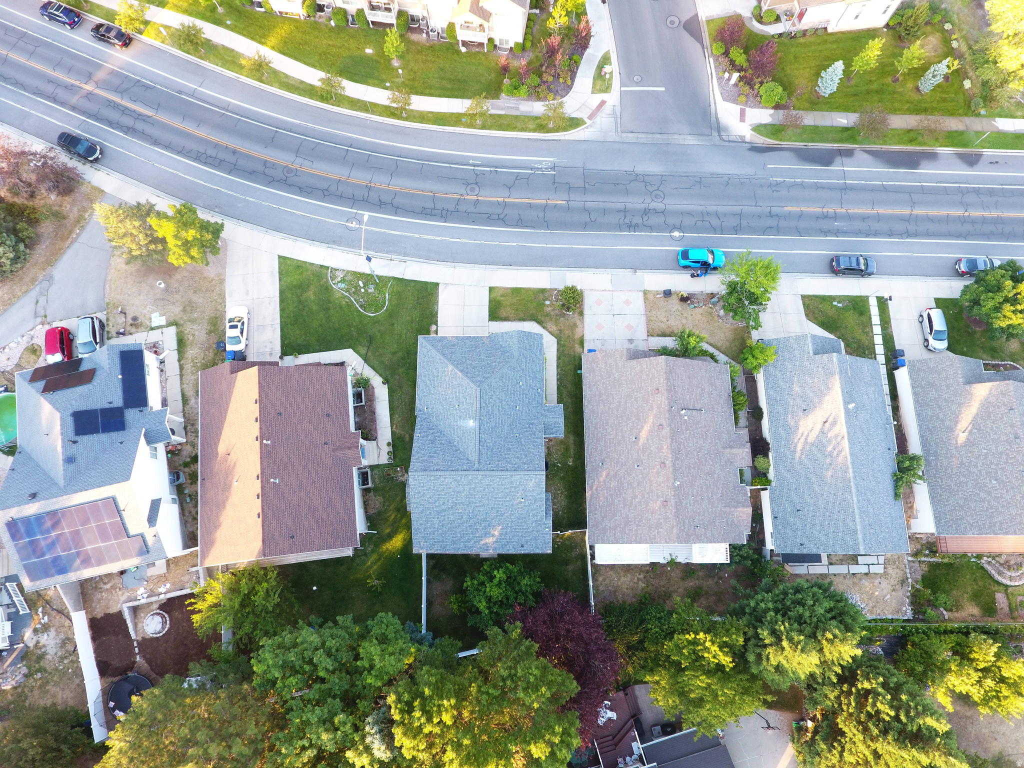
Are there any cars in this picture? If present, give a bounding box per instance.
[225,306,249,355]
[37,1,87,30]
[48,324,72,362]
[78,314,103,356]
[828,254,876,277]
[53,129,108,164]
[677,247,724,276]
[918,307,949,352]
[952,254,1000,276]
[89,24,136,52]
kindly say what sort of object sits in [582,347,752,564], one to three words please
house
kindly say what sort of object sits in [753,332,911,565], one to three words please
house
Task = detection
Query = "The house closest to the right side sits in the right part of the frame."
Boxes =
[891,355,1024,553]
